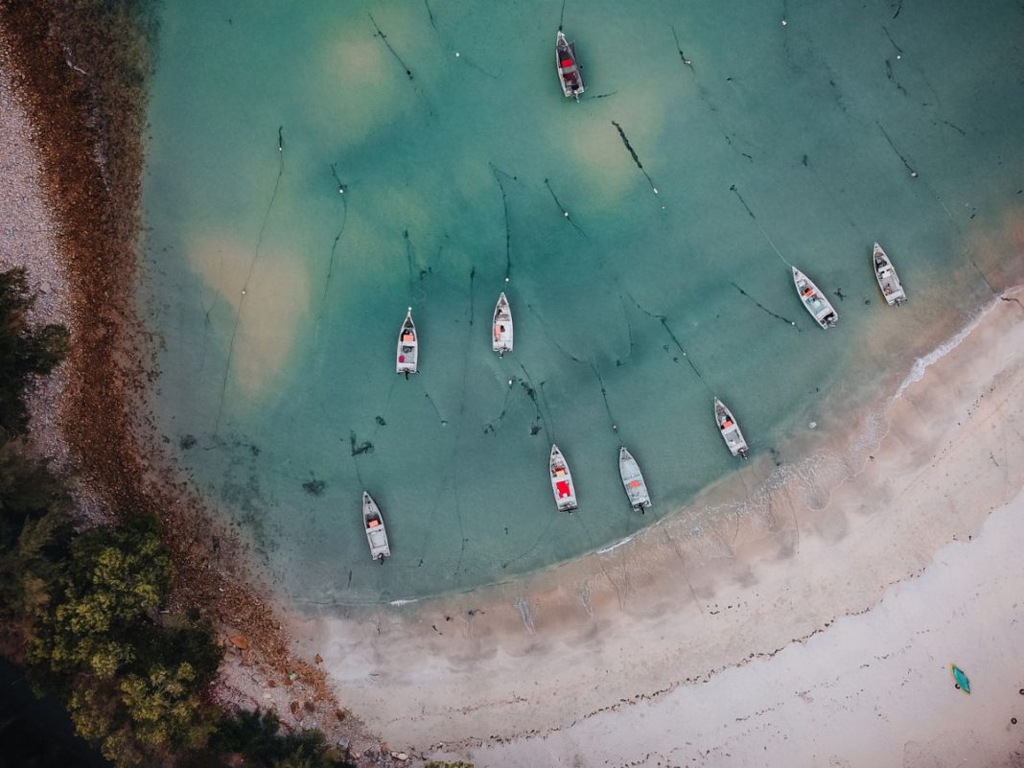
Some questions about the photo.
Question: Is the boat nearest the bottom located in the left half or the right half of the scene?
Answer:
right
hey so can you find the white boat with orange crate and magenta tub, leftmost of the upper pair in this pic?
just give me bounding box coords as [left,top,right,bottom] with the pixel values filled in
[396,309,418,385]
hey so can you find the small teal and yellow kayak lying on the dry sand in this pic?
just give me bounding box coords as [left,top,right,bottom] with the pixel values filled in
[956,667,976,696]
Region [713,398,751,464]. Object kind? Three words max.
boat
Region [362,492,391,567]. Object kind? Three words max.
boat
